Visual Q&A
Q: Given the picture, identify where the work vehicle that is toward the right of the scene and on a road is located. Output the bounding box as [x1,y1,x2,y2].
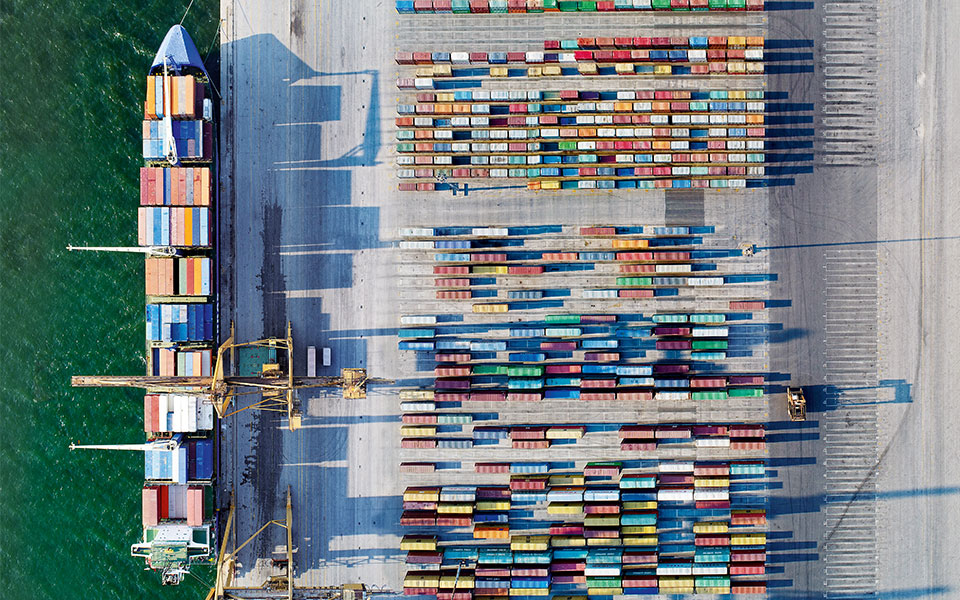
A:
[777,383,807,420]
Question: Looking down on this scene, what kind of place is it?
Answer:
port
